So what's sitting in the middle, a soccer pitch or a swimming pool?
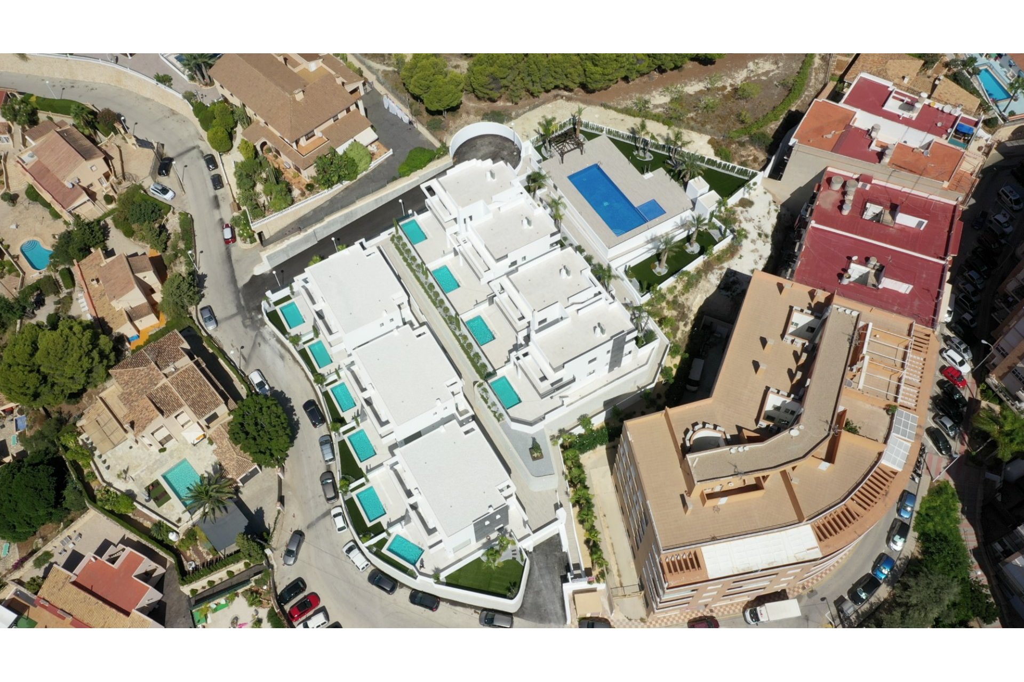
swimming pool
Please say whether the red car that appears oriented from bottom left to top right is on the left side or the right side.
left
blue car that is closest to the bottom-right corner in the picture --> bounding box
[872,552,895,580]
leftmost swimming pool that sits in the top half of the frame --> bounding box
[18,237,58,272]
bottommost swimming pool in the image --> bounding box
[384,533,427,567]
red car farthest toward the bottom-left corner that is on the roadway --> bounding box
[289,592,322,624]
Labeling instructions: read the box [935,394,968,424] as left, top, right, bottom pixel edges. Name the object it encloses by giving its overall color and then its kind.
black car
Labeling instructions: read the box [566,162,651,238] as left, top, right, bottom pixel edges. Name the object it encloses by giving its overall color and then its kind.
blue swimming pool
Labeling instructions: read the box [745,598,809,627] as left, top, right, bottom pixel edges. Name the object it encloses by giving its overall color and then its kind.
white truck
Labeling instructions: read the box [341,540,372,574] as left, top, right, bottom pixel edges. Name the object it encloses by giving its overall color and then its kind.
white car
